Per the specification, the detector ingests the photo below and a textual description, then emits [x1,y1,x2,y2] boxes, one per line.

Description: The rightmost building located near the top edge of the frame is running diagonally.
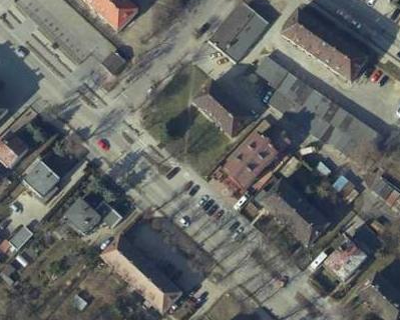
[280,8,371,81]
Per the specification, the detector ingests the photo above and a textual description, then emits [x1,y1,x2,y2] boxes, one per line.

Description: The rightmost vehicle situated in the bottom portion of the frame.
[309,254,326,269]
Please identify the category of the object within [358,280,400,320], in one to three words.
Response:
house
